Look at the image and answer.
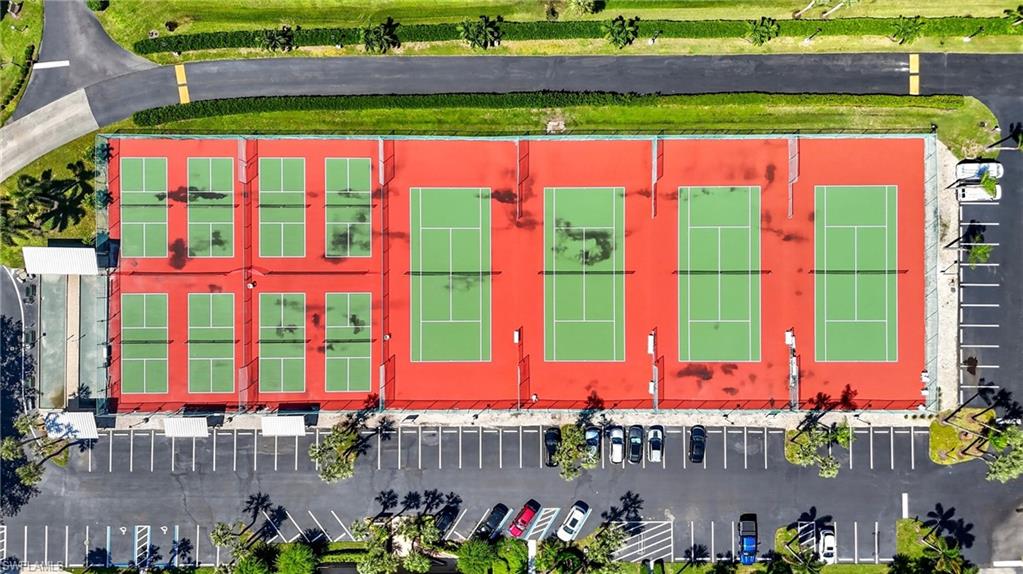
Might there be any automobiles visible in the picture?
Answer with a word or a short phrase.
Yes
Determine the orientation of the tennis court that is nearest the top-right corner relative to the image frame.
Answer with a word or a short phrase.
from top to bottom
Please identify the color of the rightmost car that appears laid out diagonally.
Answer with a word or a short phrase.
white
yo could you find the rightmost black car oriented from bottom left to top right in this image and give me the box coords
[479,502,508,536]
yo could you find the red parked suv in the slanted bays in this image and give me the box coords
[509,501,537,536]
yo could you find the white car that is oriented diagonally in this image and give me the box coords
[556,504,585,538]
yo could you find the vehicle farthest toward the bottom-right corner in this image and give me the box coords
[818,528,837,563]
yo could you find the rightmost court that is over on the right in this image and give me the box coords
[814,186,903,361]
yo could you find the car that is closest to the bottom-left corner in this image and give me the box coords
[435,502,461,535]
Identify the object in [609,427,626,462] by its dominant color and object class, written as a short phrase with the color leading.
white car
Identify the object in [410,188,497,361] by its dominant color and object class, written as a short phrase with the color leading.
green tennis court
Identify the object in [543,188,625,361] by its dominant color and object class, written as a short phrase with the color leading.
green tennis court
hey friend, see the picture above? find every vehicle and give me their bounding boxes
[628,426,645,462]
[609,427,626,462]
[556,504,585,538]
[584,426,602,461]
[957,163,1004,181]
[544,428,560,465]
[957,185,1002,203]
[818,528,837,563]
[479,502,508,536]
[435,502,461,535]
[509,501,537,536]
[648,428,665,462]
[738,518,757,562]
[690,426,708,463]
